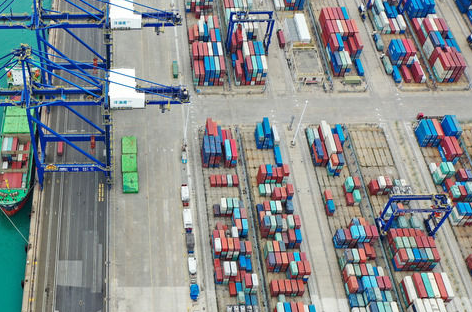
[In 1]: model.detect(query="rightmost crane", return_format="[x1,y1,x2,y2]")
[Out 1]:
[373,187,458,240]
